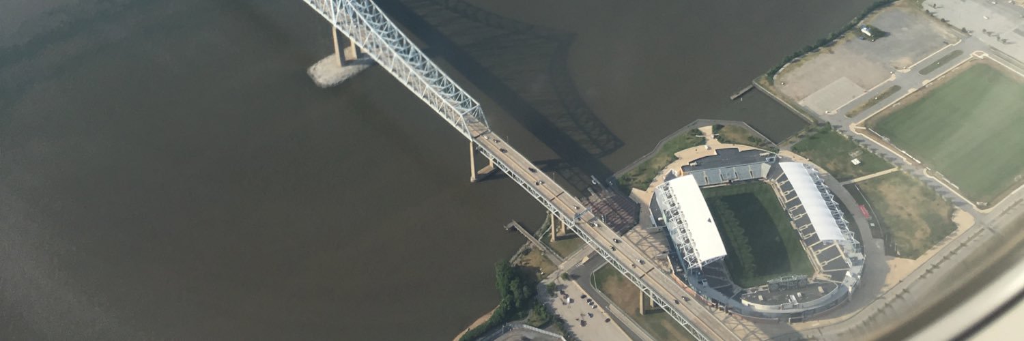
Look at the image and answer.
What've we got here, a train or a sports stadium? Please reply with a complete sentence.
It is a sports stadium that can be seen here.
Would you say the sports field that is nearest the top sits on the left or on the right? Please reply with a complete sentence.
You can find the sports field that is nearest the top on the right side of the picture.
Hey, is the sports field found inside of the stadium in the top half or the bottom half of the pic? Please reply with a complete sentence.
The sports field found inside of the stadium sits in the bottom half of the picture.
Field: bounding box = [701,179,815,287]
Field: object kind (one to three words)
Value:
sports field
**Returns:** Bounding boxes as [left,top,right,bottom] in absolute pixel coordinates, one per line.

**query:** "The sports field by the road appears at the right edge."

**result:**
[862,57,1024,208]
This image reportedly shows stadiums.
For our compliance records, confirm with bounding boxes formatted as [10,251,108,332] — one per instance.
[646,151,865,322]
